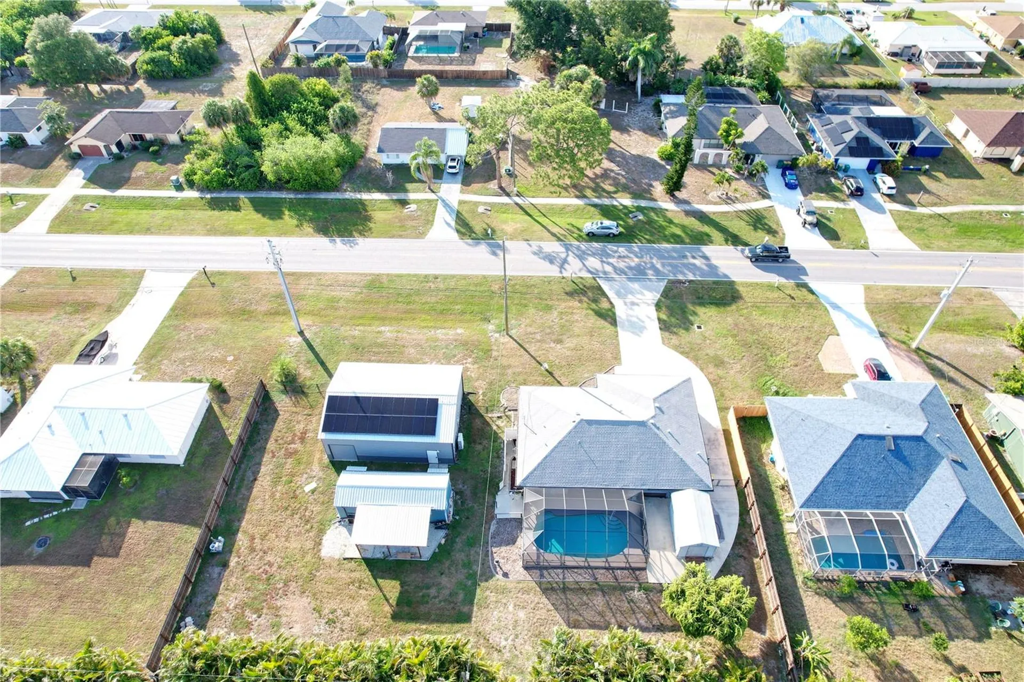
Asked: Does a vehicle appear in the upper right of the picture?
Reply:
Yes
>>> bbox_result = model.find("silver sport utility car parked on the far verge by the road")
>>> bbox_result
[583,219,621,238]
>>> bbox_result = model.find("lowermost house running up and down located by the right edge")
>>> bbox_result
[984,393,1024,493]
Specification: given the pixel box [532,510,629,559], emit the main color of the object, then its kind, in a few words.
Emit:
blue swimming pool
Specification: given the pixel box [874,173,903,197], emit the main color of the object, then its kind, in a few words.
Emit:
white car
